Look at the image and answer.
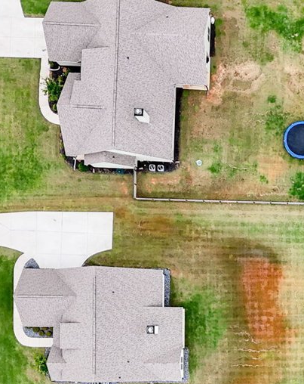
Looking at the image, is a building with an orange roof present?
No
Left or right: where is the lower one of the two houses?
left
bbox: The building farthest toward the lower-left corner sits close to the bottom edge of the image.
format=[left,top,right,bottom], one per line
[15,267,186,382]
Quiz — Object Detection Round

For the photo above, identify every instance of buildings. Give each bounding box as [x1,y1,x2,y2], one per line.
[15,267,186,382]
[42,0,212,170]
